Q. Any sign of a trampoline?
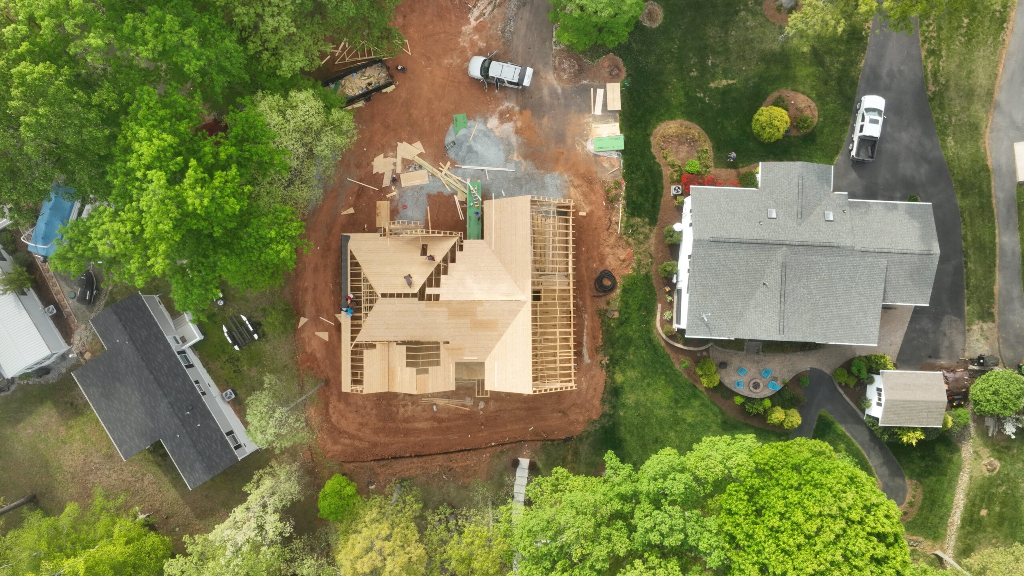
No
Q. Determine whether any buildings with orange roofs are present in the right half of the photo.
No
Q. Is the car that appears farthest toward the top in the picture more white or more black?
white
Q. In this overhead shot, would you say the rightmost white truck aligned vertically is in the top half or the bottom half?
top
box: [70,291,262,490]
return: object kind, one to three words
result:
house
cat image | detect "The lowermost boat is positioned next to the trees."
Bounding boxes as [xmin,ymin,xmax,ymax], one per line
[73,270,92,305]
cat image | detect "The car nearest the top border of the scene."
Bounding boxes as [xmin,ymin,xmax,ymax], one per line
[469,46,532,90]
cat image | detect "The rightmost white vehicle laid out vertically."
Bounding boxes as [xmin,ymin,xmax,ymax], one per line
[848,96,888,164]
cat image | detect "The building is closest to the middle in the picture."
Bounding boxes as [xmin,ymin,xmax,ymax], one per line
[342,195,576,397]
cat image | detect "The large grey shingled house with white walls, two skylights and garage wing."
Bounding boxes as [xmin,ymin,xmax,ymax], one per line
[661,161,939,347]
